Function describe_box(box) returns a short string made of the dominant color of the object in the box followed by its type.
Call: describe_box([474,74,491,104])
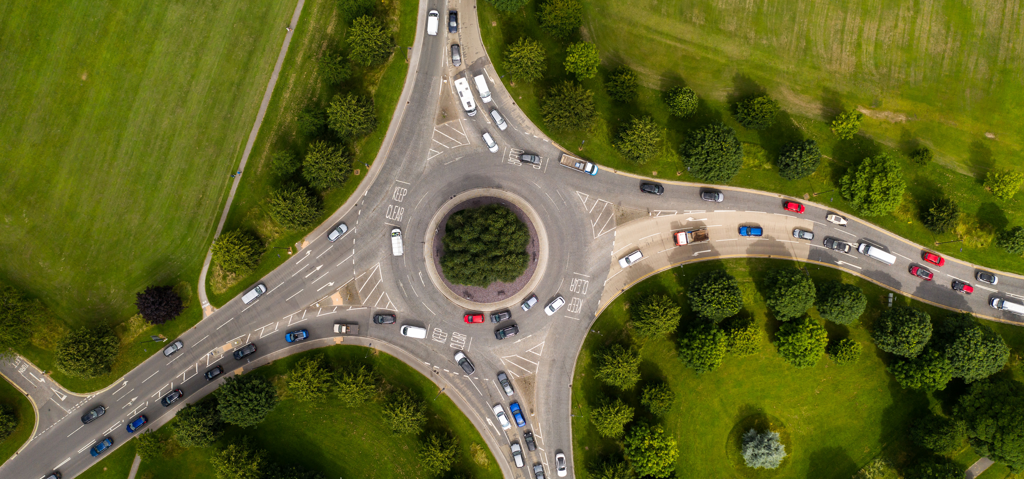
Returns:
white vehicle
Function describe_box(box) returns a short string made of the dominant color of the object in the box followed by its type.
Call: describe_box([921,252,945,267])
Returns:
red car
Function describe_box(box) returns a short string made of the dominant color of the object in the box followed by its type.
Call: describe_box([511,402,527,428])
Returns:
blue car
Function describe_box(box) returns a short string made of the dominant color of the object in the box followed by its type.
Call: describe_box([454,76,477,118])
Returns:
white camper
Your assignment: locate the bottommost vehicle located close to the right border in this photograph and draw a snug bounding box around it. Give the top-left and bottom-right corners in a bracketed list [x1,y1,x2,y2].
[985,297,1024,320]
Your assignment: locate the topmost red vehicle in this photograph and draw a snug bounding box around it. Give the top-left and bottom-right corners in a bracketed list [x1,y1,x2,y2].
[783,201,805,214]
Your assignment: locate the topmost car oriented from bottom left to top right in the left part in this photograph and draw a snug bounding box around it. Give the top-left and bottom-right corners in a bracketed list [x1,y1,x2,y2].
[326,222,349,243]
